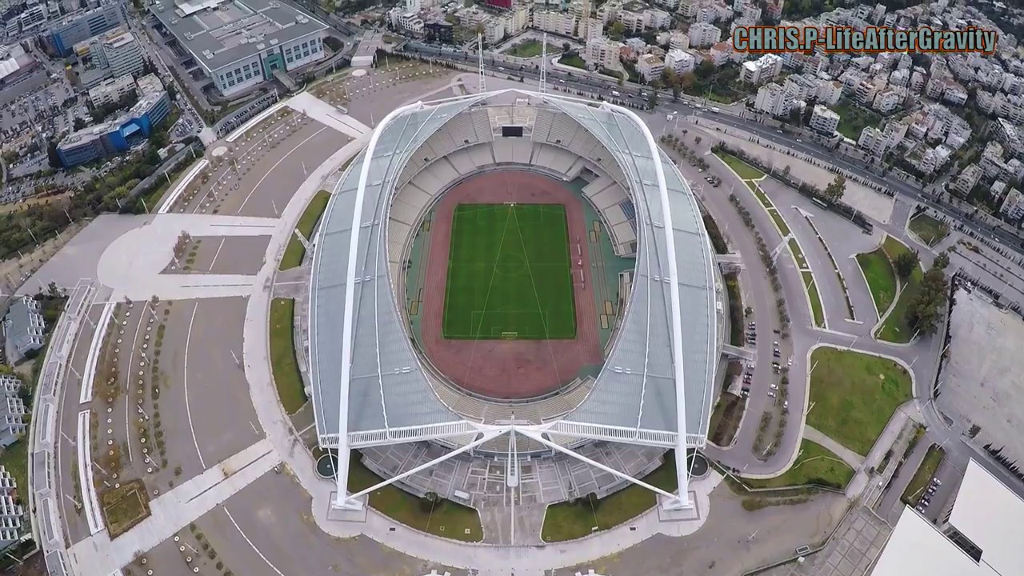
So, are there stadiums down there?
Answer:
Yes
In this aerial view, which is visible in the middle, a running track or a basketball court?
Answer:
running track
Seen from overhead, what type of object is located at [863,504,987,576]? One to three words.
building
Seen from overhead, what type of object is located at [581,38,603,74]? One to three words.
building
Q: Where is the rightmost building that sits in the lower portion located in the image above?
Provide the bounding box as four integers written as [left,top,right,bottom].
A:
[936,458,1024,576]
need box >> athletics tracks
[408,170,621,398]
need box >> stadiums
[300,87,724,511]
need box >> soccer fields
[442,203,578,339]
